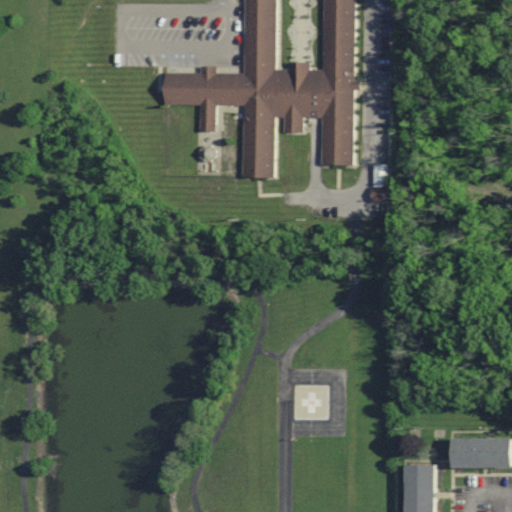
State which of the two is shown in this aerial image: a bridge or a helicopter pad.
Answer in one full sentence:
Visible in the photo is a helicopter pad.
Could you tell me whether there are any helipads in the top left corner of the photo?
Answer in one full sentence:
No, there is no helipad in the top left corner of the photo.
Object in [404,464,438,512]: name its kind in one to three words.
building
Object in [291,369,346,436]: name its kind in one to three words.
helipad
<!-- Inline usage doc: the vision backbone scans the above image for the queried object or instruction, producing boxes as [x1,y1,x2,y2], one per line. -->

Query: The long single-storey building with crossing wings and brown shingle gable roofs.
[161,0,360,178]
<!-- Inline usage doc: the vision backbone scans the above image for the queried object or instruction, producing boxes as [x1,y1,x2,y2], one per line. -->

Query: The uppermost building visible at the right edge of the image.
[450,438,512,468]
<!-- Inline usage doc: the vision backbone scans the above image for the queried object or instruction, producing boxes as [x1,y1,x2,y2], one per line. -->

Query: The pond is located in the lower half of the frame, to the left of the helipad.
[49,295,228,512]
